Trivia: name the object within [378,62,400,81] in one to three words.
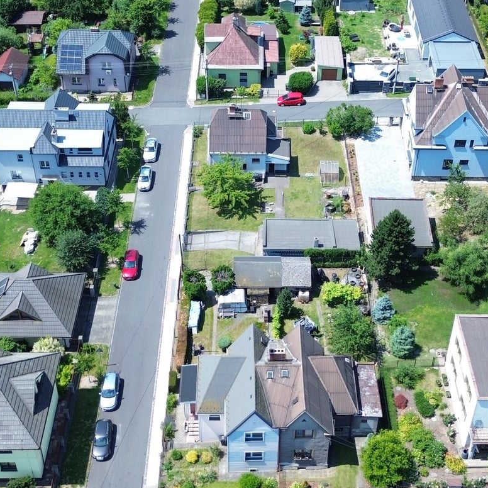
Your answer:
car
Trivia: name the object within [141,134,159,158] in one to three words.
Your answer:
car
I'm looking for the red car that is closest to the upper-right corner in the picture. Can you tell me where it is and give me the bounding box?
[278,92,304,105]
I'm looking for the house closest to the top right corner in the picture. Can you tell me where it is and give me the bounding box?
[410,0,486,78]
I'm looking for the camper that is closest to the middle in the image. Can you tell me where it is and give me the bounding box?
[217,289,248,317]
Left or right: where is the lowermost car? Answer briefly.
left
